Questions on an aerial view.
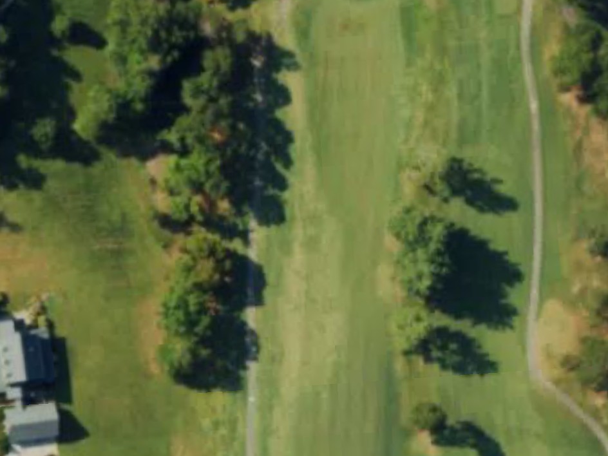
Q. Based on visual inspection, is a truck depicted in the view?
No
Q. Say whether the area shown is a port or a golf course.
golf course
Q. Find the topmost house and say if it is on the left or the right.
left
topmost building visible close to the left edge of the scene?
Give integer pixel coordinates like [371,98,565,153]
[0,318,56,409]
